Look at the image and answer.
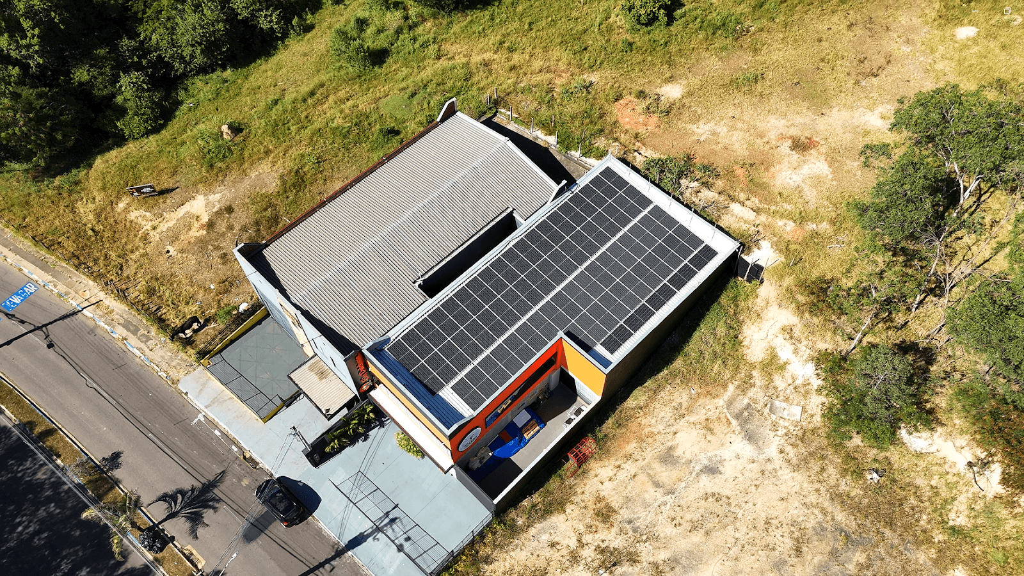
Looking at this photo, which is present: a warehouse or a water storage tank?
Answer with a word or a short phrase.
warehouse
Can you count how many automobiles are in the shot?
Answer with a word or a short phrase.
one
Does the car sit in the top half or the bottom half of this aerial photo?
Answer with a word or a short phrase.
bottom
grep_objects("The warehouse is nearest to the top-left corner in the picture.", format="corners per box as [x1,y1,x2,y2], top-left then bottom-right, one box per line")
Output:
[233,95,569,405]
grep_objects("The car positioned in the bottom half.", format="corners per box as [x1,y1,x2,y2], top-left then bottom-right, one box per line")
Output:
[253,479,309,535]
